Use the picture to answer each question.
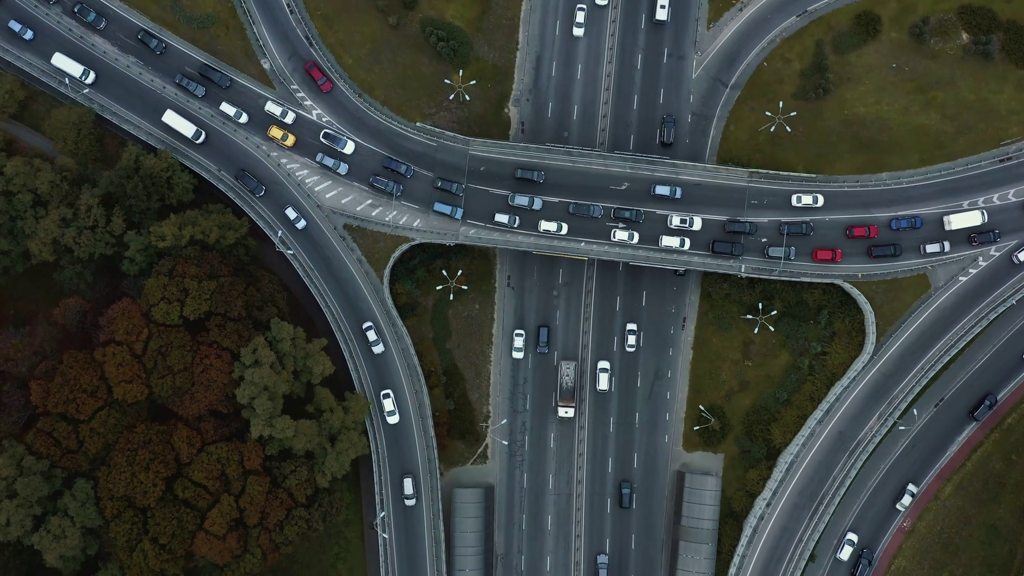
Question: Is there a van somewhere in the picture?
Yes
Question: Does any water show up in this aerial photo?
No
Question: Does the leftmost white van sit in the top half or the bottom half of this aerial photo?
top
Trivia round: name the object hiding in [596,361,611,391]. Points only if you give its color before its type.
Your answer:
white car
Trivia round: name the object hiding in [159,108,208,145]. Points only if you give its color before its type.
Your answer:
white van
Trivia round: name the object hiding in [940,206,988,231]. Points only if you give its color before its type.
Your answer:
white truck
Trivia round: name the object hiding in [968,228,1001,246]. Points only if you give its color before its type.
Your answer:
black car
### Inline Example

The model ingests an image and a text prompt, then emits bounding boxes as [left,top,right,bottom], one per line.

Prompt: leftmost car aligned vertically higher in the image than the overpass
[572,5,586,37]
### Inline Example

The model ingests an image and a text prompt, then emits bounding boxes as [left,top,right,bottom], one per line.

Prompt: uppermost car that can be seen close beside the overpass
[660,114,676,146]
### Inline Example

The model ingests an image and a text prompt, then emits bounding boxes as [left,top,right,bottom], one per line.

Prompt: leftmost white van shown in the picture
[49,51,99,86]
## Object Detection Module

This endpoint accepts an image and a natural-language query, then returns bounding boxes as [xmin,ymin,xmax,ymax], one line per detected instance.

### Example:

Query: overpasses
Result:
[460,136,749,278]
